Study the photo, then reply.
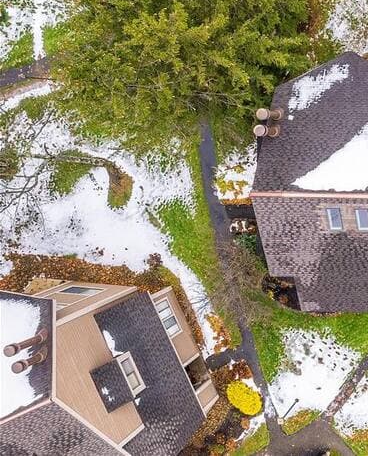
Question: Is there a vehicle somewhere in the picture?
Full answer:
No, no vehicle is visible in the scene.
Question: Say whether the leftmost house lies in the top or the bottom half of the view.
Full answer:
It is in the bottom half that the leftmost house appears.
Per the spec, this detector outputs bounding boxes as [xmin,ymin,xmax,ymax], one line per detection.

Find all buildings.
[251,52,368,312]
[0,280,222,456]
